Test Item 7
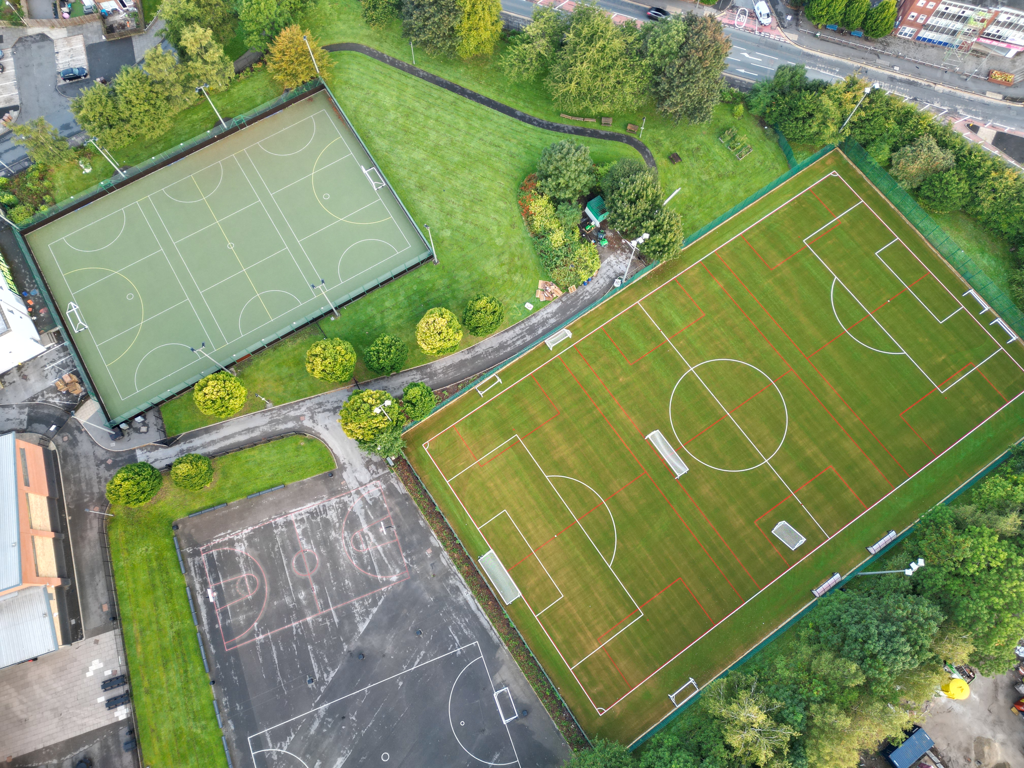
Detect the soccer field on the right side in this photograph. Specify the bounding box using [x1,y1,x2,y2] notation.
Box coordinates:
[403,147,1024,744]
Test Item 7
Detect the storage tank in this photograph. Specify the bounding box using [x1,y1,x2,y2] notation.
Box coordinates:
[936,674,974,704]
